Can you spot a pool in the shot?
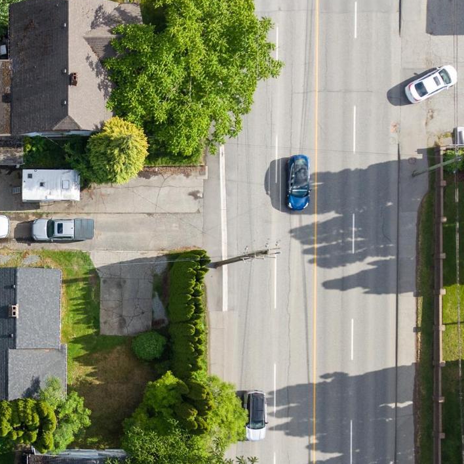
No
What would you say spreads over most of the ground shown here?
paved ground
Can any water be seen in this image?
No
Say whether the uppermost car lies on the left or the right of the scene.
right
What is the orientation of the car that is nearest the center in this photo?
up and down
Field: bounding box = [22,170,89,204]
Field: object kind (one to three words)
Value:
vehicle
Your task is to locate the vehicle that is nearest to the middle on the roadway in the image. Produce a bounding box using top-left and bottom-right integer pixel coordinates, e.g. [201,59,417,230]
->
[285,155,313,212]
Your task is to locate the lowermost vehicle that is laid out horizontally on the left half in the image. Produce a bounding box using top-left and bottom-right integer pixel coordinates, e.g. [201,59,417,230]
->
[31,216,94,244]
